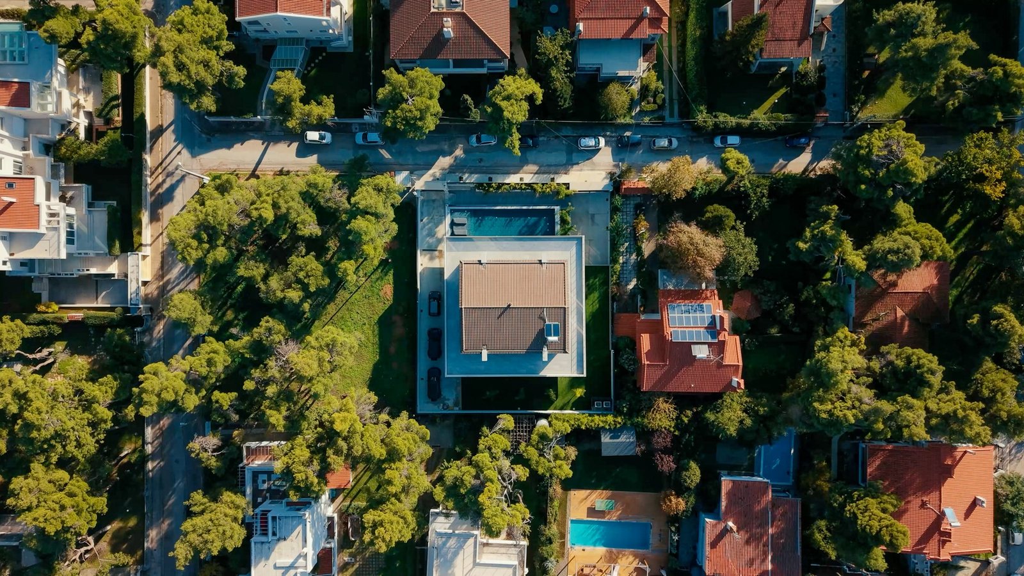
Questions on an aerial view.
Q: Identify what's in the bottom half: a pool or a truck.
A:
pool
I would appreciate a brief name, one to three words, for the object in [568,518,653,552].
swimming pool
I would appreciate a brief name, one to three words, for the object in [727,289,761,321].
gazebo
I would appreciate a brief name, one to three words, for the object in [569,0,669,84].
house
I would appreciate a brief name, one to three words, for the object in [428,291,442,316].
car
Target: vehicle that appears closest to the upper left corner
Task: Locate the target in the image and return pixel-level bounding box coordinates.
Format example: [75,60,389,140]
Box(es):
[305,130,332,145]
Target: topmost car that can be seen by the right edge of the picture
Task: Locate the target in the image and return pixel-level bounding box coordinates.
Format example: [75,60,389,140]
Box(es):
[1006,520,1023,548]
